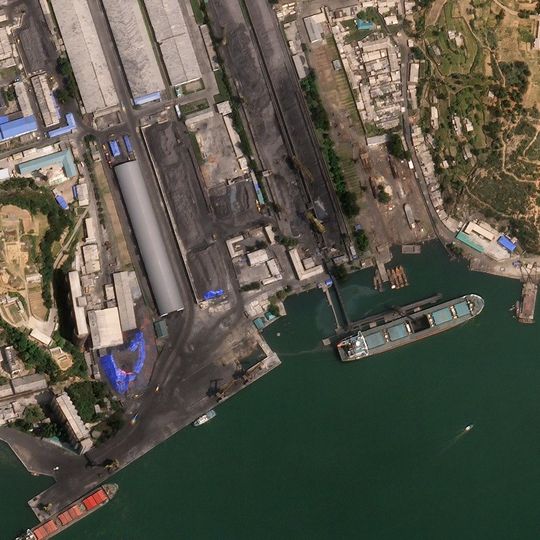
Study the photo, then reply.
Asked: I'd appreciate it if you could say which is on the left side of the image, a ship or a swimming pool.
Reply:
ship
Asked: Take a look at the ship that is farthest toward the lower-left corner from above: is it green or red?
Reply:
red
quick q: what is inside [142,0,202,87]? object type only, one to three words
shed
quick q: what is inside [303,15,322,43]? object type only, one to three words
shed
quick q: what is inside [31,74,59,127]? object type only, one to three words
building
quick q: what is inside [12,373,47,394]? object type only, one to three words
house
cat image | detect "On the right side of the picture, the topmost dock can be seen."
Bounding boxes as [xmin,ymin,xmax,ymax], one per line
[370,246,392,282]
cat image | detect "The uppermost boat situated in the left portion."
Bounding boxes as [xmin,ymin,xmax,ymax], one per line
[194,410,216,425]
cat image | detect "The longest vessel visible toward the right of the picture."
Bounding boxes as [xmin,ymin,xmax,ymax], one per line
[335,296,486,361]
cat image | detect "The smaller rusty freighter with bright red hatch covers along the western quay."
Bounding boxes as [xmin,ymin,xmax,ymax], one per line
[17,476,120,540]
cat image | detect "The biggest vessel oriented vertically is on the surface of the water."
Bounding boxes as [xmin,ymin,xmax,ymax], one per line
[520,279,536,323]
